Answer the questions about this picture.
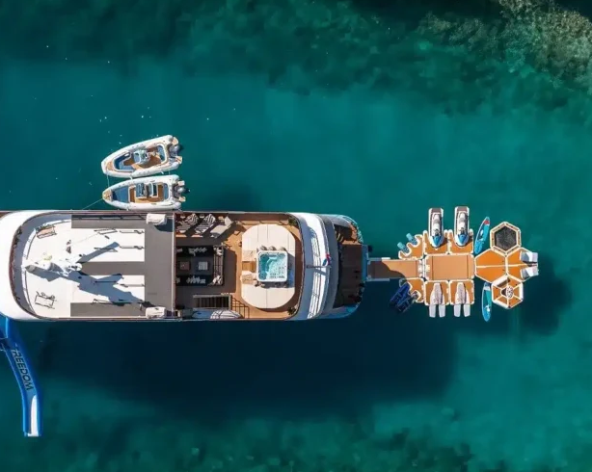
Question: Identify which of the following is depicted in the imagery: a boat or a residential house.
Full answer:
The image shows a boat.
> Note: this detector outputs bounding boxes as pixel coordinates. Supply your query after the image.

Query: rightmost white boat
[453,208,468,247]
